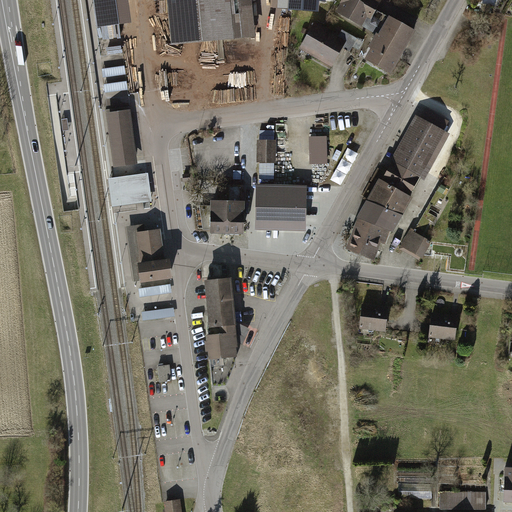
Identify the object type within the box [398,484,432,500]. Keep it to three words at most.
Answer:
greenhouse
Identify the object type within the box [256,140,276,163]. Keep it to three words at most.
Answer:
shed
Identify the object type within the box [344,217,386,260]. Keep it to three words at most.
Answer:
house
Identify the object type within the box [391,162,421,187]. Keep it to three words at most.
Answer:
building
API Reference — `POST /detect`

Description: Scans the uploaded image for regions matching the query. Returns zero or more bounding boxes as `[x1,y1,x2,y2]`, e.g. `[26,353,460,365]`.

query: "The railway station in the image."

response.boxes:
[47,0,126,288]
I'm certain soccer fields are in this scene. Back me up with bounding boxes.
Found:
[475,14,512,274]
